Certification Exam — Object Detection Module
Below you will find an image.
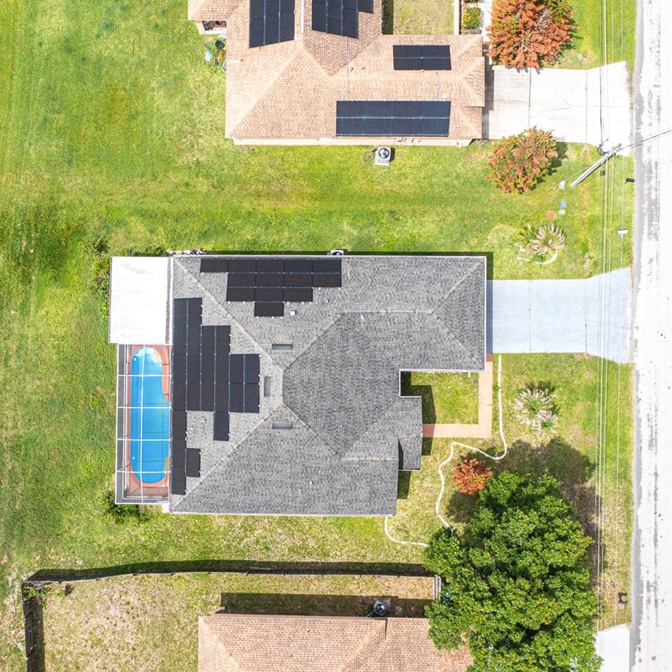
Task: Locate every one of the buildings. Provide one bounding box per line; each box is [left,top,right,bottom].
[197,603,484,672]
[108,255,488,517]
[188,0,485,147]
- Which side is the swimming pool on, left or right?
left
